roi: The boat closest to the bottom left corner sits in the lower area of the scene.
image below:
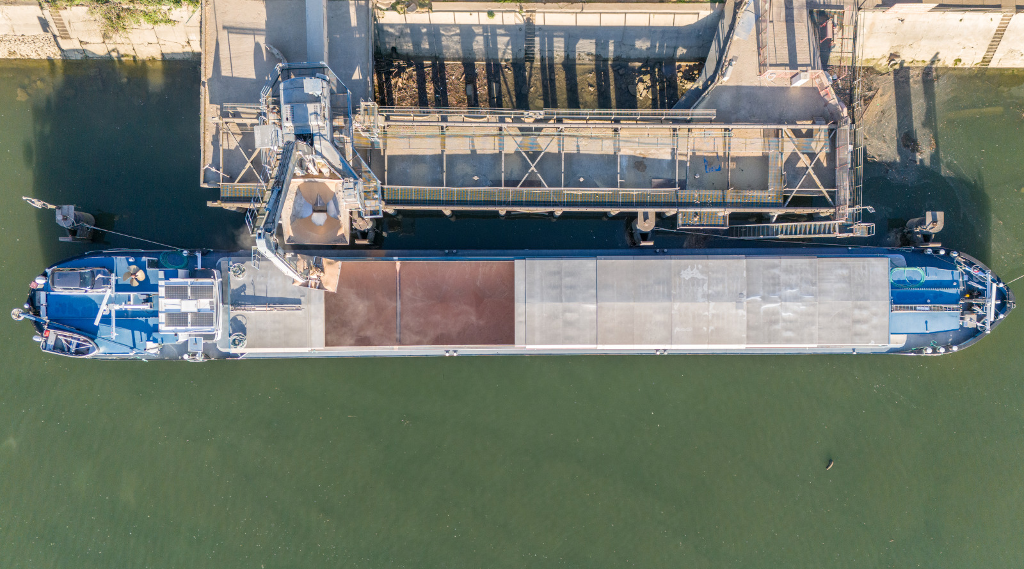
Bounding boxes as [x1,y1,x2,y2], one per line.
[31,329,100,358]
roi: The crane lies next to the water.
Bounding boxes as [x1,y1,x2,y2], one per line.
[241,58,377,293]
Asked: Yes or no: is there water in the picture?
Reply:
Yes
